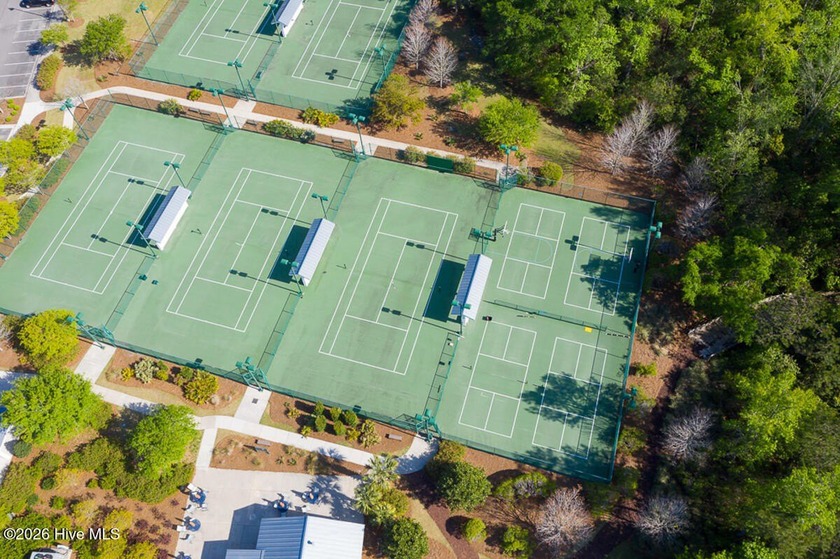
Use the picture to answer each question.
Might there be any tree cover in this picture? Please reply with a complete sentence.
Yes, tree cover can be seen from above here.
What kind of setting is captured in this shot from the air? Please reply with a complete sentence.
This looks like a sports ground.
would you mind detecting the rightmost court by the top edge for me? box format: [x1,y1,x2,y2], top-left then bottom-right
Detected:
[248,0,418,121]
